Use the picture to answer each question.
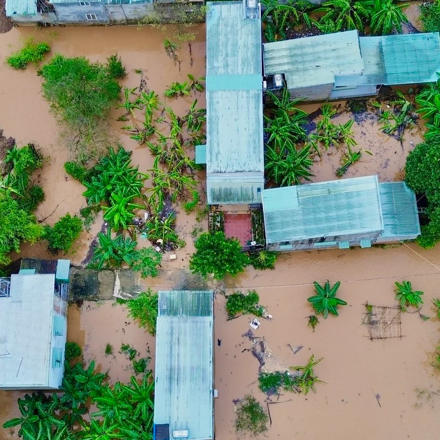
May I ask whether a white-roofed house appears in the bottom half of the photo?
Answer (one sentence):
Yes, the scene does show a white-roofed house in the bottom half of the photo.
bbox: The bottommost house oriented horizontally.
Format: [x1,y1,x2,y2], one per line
[261,176,422,255]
